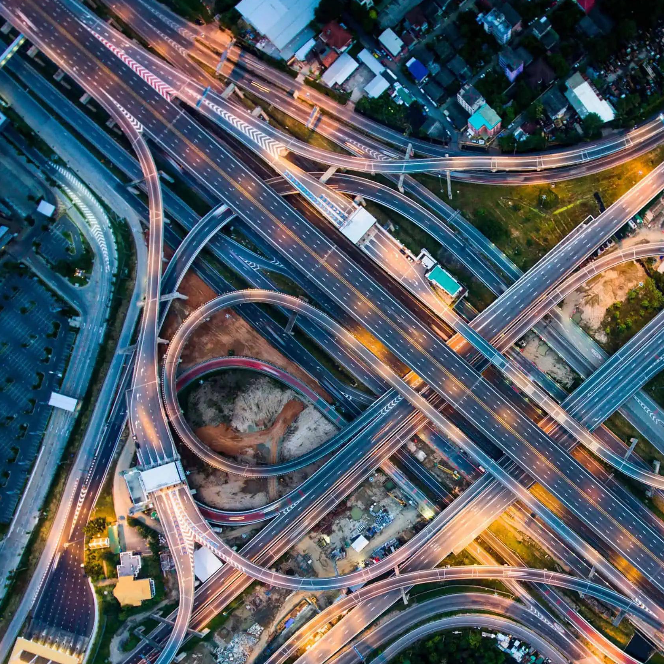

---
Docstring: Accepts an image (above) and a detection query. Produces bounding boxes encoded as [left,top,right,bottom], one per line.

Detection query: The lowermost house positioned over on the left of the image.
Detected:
[113,573,157,606]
